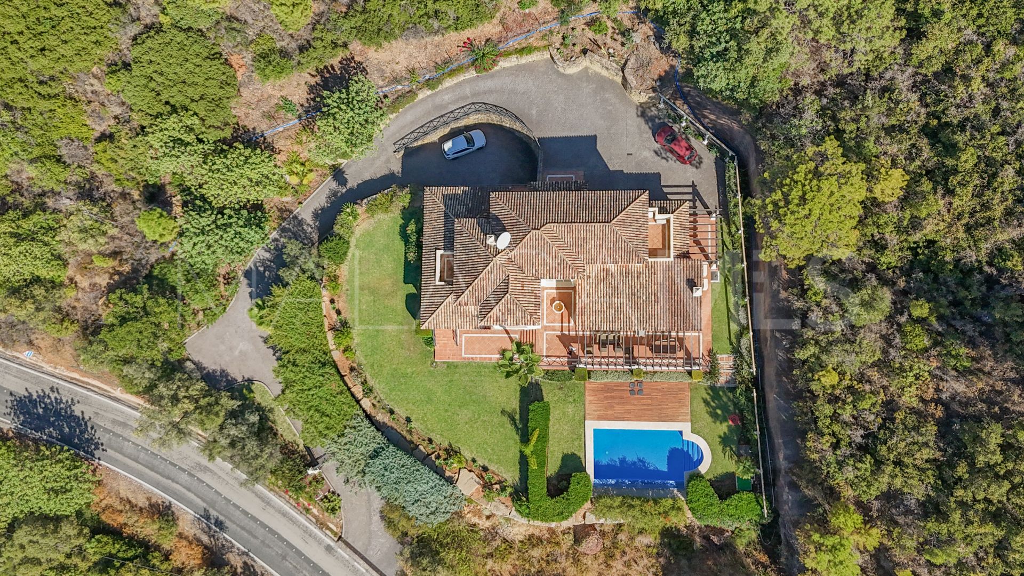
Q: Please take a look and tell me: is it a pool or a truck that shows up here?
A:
pool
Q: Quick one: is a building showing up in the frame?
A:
Yes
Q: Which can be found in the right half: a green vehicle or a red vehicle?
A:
red vehicle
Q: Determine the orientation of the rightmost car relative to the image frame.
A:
on a diagonal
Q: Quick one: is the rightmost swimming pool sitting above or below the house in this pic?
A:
below it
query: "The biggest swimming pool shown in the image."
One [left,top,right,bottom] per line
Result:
[585,421,711,497]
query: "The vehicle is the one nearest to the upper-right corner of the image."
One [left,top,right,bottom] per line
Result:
[652,124,700,166]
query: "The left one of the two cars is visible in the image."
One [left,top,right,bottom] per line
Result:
[438,127,489,163]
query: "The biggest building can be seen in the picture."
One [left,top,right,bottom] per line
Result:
[419,180,703,335]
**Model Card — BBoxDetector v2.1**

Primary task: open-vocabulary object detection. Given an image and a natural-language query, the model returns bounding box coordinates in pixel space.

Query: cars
[438,127,489,163]
[652,124,700,166]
